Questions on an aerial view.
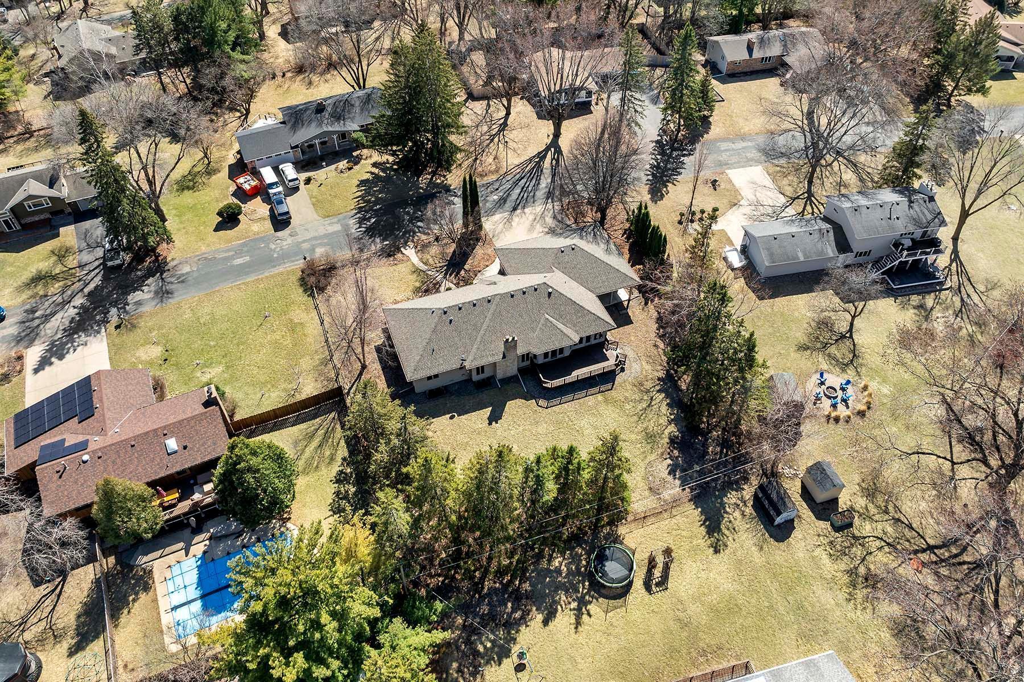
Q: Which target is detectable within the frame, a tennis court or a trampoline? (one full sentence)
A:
I can see a trampoline in this picture.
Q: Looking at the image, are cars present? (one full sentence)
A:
Yes, the frame does contain a car.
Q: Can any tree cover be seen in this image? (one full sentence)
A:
Yes, tree cover can be seen from above here.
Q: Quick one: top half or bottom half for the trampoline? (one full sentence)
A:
The trampoline sits in the bottom half of the picture.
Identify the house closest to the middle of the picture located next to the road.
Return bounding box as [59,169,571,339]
[382,222,643,404]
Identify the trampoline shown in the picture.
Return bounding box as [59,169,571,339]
[589,538,638,595]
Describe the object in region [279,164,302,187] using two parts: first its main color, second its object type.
white car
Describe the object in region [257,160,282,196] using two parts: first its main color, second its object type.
white vehicle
